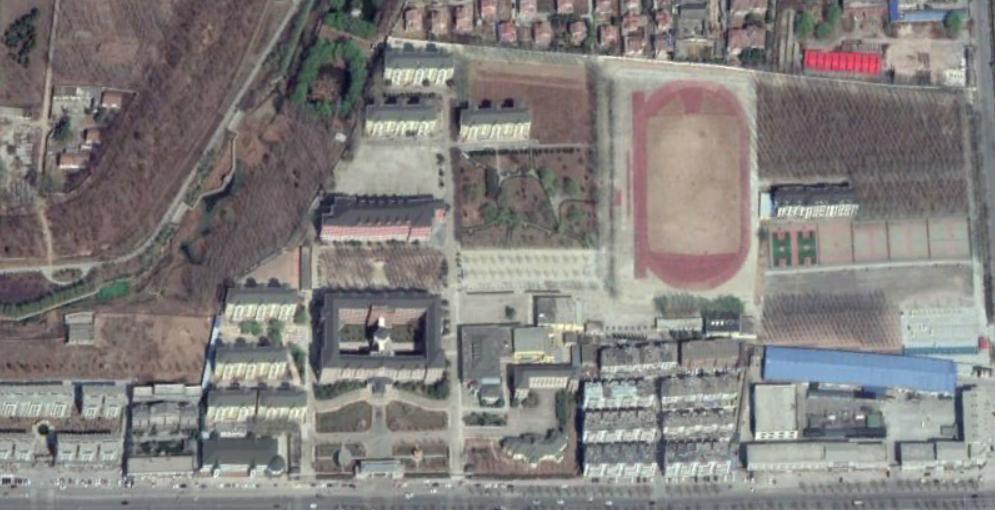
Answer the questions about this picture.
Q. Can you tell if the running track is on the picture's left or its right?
right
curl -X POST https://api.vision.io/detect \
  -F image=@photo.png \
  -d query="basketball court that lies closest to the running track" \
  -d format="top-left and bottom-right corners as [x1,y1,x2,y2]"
[770,228,794,268]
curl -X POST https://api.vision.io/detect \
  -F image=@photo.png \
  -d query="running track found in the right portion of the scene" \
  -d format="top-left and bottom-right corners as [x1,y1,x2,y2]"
[634,79,750,289]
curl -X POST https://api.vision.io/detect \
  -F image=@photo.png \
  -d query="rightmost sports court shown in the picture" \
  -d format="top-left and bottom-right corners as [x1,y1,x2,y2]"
[930,219,970,259]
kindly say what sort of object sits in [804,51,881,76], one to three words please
shed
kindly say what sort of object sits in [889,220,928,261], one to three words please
sports court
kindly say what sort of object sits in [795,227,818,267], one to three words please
basketball court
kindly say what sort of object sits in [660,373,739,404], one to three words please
building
